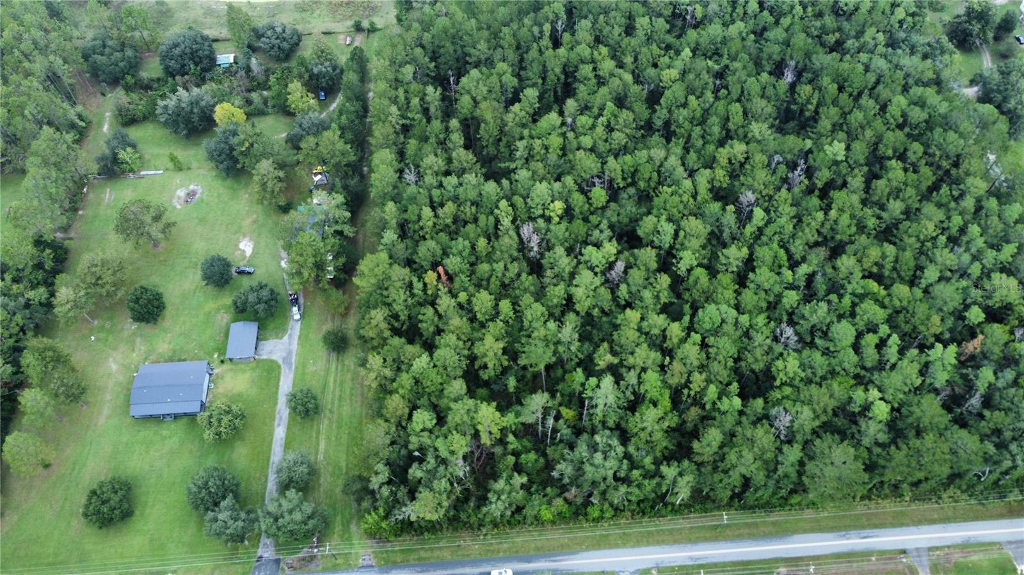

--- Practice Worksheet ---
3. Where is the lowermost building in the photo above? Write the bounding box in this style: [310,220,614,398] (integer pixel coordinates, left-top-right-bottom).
[129,360,224,423]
